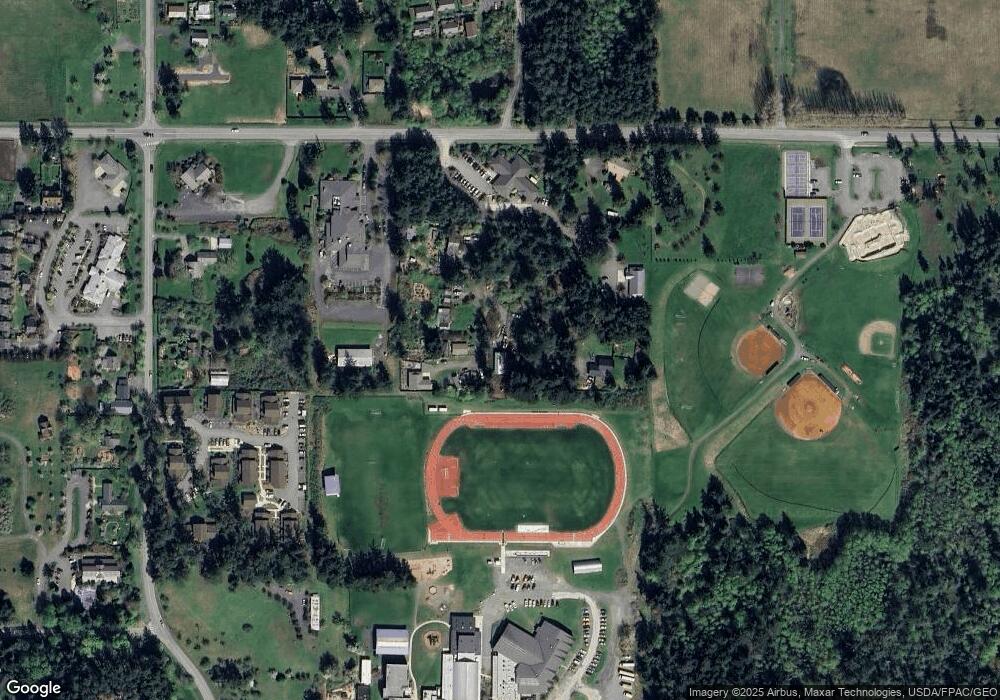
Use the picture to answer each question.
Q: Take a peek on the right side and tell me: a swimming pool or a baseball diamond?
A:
baseball diamond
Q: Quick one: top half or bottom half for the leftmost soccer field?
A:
bottom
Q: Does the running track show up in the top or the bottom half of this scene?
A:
bottom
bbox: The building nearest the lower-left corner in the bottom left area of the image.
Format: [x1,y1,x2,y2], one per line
[80,557,119,584]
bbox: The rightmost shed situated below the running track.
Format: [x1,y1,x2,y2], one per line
[573,561,602,574]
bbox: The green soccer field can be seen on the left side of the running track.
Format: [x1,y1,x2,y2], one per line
[324,398,428,552]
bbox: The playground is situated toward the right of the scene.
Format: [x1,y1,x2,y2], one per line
[775,289,800,329]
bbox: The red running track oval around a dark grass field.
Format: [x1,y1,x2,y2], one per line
[426,413,627,547]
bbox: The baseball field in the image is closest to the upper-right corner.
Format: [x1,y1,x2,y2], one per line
[859,322,896,359]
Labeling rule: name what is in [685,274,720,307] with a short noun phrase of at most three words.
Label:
baseball field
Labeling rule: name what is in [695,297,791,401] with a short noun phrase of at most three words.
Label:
baseball field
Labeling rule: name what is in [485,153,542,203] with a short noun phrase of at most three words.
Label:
building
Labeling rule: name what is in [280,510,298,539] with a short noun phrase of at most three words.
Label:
house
